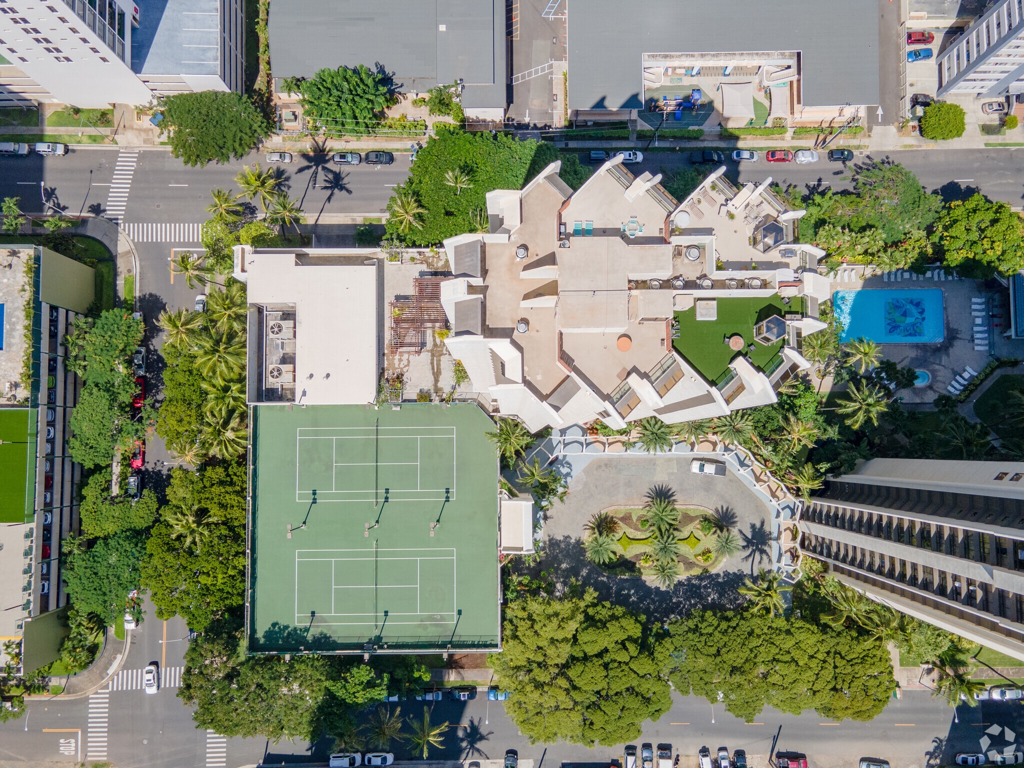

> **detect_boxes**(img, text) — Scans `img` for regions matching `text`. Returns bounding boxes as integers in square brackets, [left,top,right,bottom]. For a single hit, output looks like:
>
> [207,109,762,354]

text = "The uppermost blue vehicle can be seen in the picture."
[905,48,934,64]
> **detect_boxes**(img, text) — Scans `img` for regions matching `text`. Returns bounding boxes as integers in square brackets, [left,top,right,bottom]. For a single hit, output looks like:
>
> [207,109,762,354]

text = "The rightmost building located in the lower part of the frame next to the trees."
[801,458,1024,652]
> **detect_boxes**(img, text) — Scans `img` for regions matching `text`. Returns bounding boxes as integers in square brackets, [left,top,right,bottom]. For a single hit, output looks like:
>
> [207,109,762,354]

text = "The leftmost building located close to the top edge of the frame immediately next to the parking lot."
[567,0,879,132]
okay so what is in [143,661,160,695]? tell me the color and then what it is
white car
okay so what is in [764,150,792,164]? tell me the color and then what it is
red car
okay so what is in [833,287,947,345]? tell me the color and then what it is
blue swimming pool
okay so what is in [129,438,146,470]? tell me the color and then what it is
red vehicle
